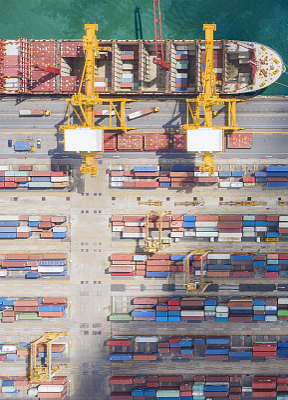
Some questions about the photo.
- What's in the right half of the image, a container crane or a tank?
container crane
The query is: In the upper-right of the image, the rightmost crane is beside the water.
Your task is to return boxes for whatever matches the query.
[181,20,244,176]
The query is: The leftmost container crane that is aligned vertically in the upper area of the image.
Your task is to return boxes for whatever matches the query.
[61,20,134,176]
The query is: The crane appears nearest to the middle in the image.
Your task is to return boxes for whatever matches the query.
[143,210,173,254]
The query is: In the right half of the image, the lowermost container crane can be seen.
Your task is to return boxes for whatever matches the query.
[186,248,214,295]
